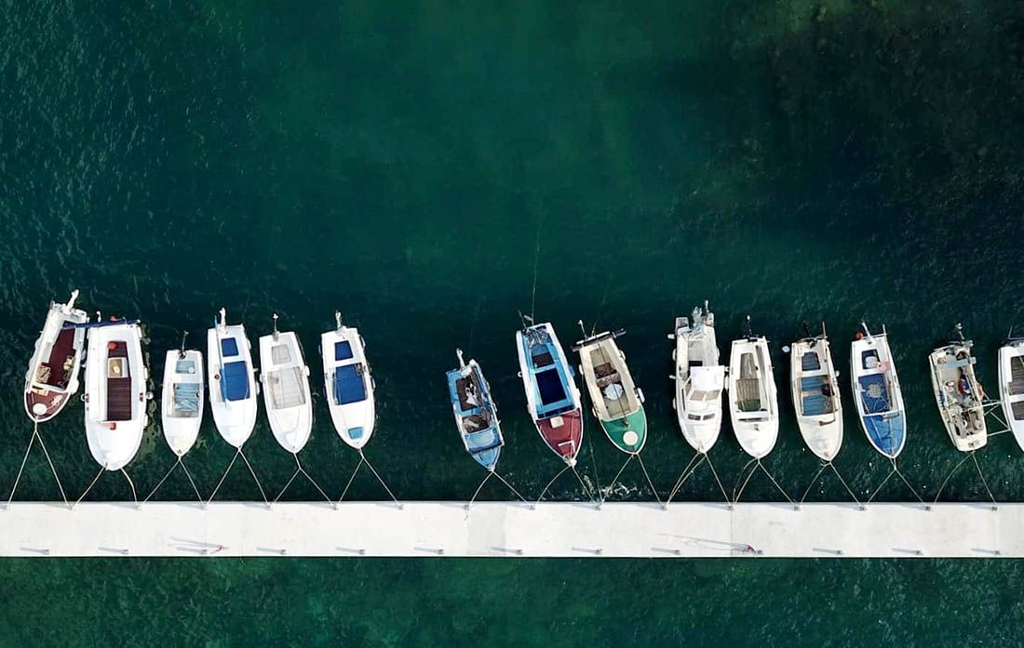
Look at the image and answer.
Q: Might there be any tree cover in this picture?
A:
No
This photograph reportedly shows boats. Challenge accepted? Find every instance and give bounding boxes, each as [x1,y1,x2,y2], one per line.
[446,346,505,472]
[928,325,988,453]
[724,314,780,459]
[515,311,584,465]
[61,310,154,473]
[317,309,377,450]
[160,330,205,458]
[206,306,261,449]
[667,304,727,452]
[790,326,844,463]
[258,314,313,455]
[850,321,908,461]
[572,319,648,454]
[23,290,87,424]
[997,326,1024,458]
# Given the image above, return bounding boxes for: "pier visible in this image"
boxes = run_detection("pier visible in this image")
[0,502,1024,558]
